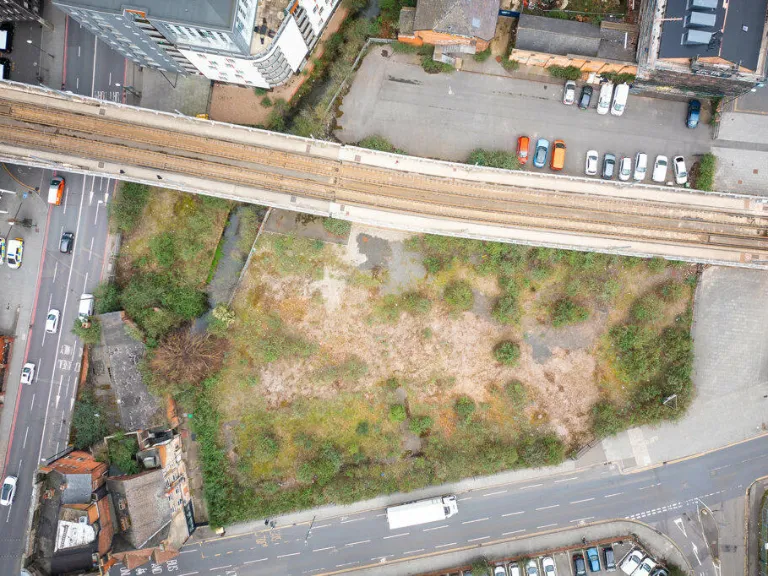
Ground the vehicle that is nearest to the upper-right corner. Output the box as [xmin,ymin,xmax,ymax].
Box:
[684,98,702,129]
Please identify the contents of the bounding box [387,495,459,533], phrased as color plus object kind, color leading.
white truck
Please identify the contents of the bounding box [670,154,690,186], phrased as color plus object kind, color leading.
white car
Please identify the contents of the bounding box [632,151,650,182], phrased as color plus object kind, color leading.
white car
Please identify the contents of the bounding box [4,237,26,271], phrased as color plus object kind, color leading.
white vehicle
